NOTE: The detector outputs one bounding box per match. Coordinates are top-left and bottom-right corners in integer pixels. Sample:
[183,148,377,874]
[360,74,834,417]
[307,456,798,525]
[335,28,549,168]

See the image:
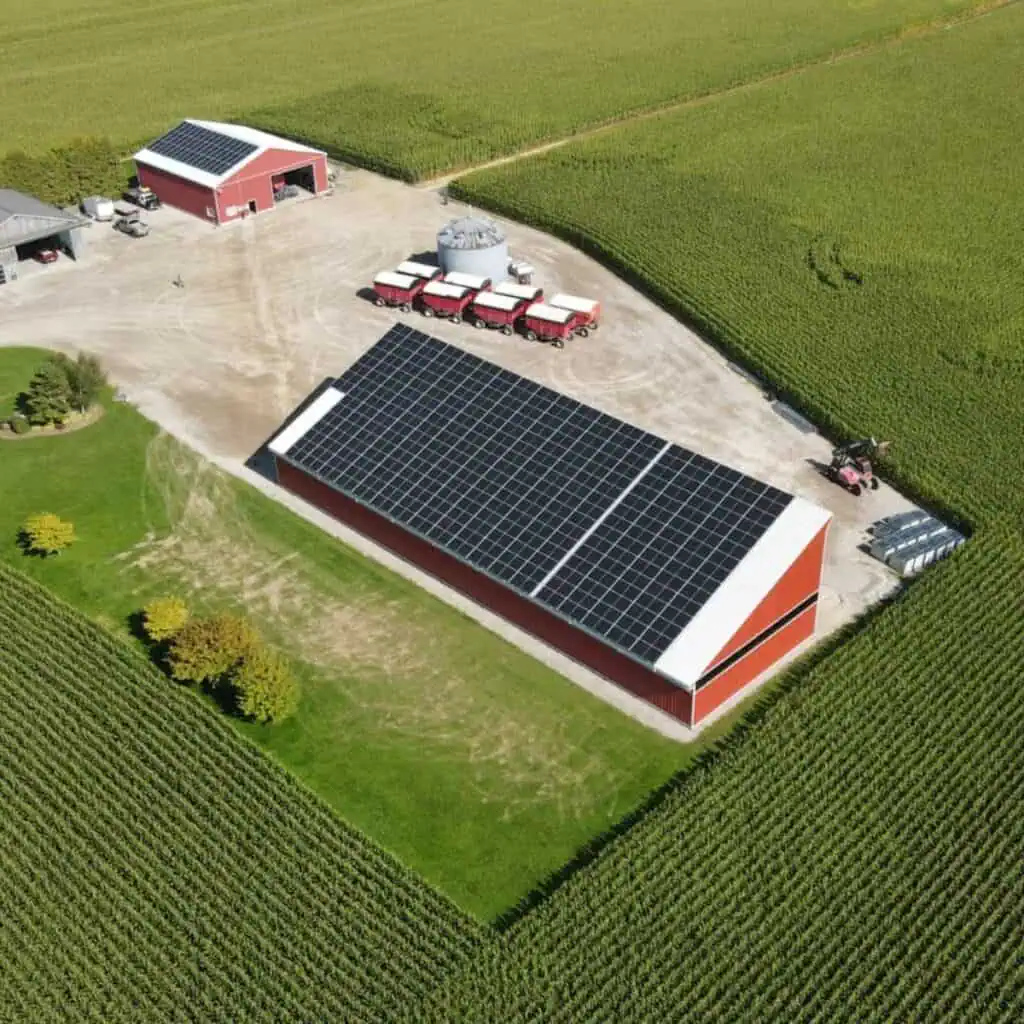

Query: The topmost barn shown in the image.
[131,117,330,225]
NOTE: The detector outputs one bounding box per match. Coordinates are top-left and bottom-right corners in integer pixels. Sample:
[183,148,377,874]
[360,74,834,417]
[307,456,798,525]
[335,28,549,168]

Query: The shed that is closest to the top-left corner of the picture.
[0,183,93,282]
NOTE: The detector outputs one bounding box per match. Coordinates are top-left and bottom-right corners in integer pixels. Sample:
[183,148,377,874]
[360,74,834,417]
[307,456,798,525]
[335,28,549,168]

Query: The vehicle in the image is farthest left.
[19,245,59,267]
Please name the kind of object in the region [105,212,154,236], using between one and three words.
truck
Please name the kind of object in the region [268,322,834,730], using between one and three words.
barn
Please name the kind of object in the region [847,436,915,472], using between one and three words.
work vehicle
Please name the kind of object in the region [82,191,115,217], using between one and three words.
trailer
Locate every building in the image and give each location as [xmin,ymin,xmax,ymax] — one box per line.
[131,117,330,225]
[268,322,834,730]
[0,183,93,282]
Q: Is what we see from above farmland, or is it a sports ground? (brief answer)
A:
farmland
